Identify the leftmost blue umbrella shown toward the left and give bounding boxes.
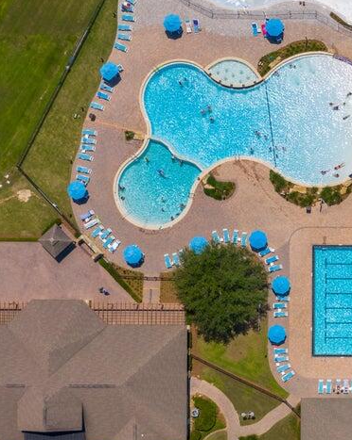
[68,182,86,200]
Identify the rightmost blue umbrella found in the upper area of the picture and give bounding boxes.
[265,19,283,37]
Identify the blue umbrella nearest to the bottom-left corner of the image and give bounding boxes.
[124,247,142,264]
